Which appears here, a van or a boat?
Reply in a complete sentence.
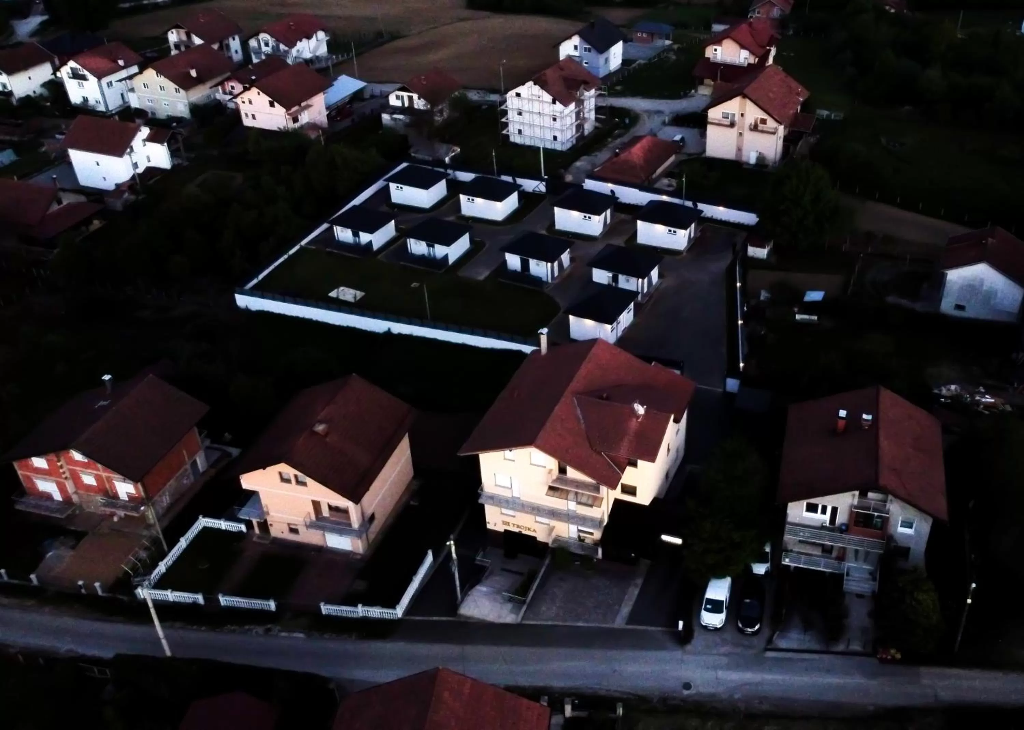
Visible in the photo is a van.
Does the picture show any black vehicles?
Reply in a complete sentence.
Yes, looking at the shot, I can spot a black vehicle.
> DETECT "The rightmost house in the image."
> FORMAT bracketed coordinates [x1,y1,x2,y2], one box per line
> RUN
[938,225,1024,323]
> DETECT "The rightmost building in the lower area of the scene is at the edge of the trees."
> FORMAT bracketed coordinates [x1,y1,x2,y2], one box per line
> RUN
[777,384,951,606]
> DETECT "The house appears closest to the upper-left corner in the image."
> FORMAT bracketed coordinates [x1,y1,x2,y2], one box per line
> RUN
[0,41,56,100]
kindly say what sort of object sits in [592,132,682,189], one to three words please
building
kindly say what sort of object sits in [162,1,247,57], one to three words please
house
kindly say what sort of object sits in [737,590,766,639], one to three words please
car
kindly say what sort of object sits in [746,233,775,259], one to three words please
shed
